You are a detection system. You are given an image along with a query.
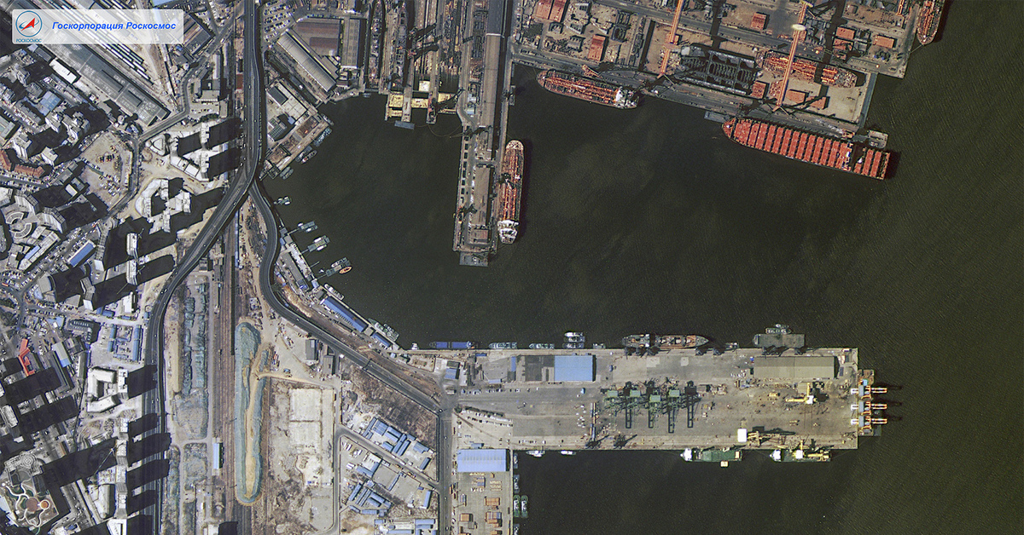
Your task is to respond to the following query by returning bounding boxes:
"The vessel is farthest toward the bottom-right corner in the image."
[770,439,832,461]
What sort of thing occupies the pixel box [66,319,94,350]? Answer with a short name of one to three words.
building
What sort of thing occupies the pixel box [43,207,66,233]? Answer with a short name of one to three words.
building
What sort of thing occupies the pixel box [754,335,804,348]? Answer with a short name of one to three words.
ship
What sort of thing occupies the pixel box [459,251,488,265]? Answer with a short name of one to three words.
pier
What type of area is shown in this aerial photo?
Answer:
port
